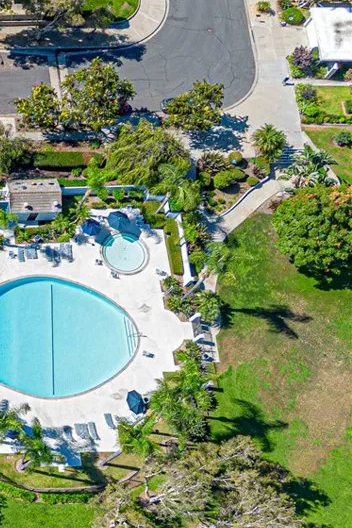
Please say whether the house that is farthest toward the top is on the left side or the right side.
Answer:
right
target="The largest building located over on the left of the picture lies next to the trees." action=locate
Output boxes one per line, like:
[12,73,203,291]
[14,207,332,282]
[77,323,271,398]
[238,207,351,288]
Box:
[5,181,63,221]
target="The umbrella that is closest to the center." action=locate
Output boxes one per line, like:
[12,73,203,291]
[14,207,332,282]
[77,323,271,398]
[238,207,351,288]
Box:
[106,212,129,232]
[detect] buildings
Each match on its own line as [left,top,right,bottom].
[5,181,63,221]
[298,7,352,79]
